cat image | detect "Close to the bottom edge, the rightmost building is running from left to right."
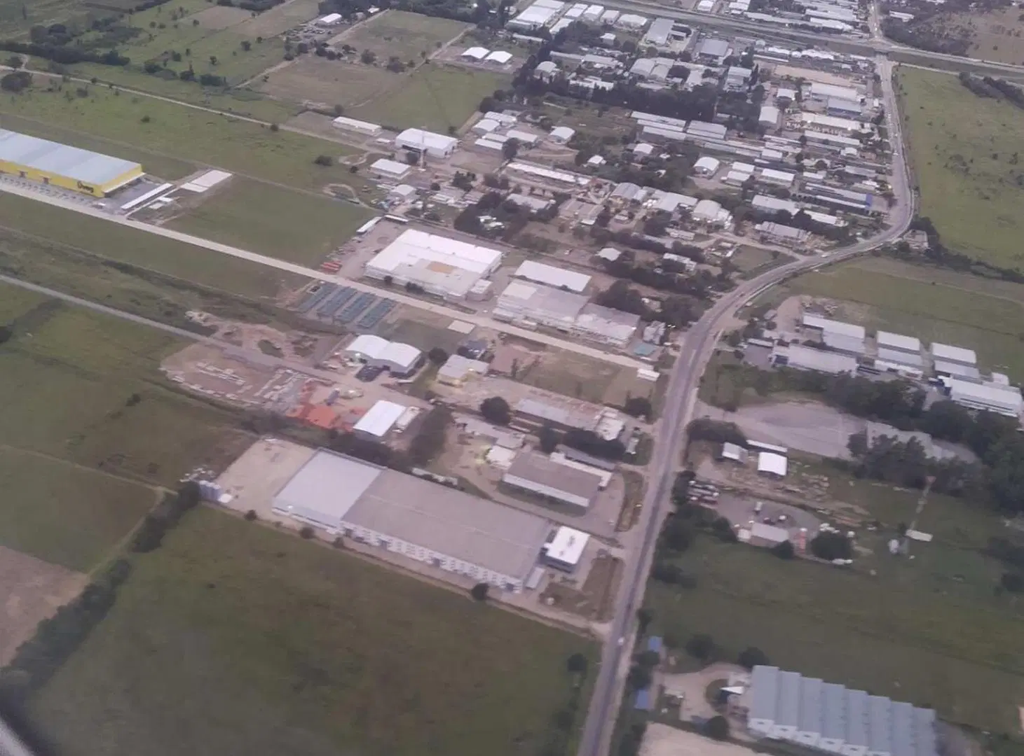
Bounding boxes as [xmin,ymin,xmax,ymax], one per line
[752,666,935,756]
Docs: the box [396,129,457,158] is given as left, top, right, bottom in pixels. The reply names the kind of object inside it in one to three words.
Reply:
hangar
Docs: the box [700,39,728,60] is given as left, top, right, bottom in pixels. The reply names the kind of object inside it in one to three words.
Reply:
building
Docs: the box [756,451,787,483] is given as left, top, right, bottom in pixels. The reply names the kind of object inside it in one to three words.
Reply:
barn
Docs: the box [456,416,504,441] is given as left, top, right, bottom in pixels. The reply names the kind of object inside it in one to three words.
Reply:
shed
